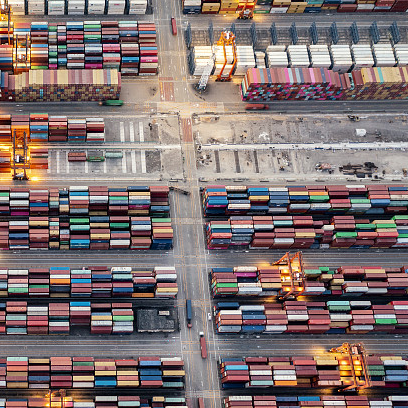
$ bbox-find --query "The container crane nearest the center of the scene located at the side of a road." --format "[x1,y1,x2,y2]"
[271,252,307,302]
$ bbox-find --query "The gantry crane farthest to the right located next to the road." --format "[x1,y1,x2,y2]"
[331,342,374,395]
